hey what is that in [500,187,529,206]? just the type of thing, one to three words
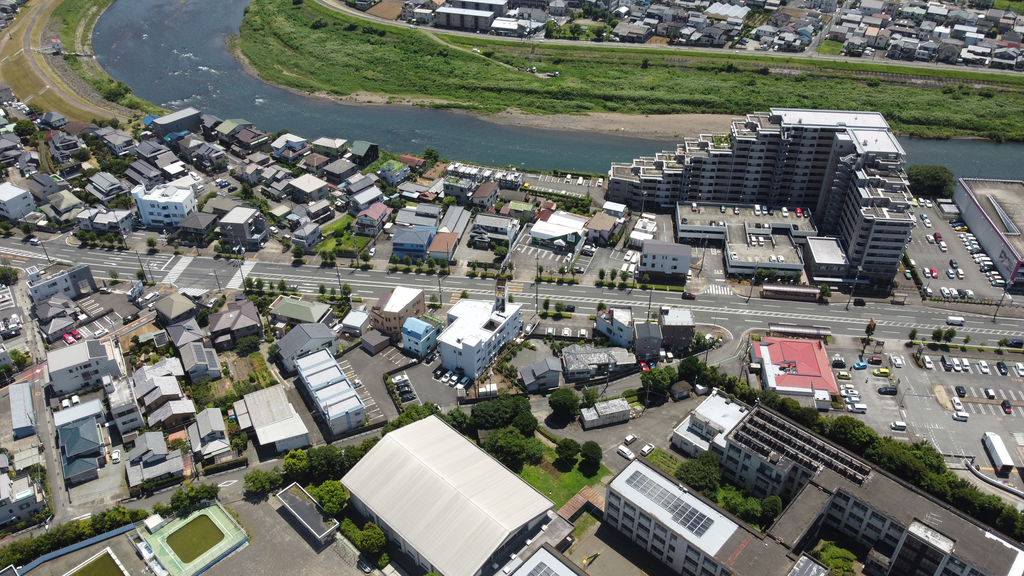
shed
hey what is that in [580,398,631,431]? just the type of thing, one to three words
building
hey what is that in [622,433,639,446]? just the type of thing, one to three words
vehicle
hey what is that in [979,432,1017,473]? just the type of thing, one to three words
truck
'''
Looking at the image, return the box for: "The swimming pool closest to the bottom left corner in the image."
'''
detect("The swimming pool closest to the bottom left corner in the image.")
[66,545,128,576]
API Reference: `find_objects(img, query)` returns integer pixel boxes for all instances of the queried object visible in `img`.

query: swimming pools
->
[66,545,128,576]
[138,503,248,576]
